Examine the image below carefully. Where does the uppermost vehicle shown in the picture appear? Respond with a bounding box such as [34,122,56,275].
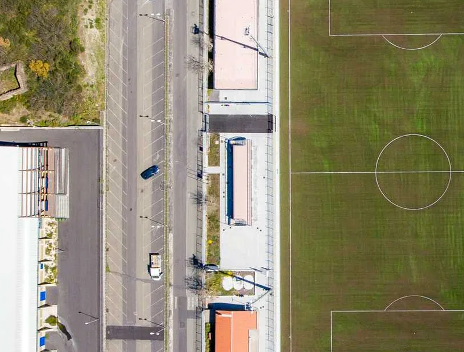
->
[139,166,159,179]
